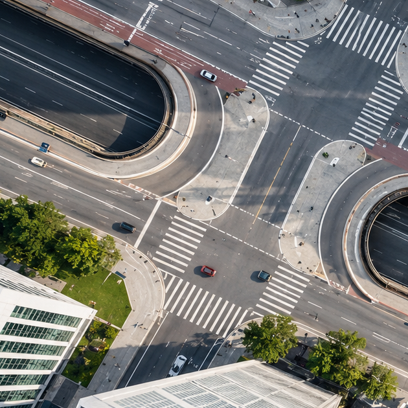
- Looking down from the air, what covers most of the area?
paved ground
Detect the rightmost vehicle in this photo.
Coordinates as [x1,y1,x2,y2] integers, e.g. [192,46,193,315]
[254,270,274,283]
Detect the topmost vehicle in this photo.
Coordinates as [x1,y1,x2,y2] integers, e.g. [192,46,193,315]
[199,69,218,83]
